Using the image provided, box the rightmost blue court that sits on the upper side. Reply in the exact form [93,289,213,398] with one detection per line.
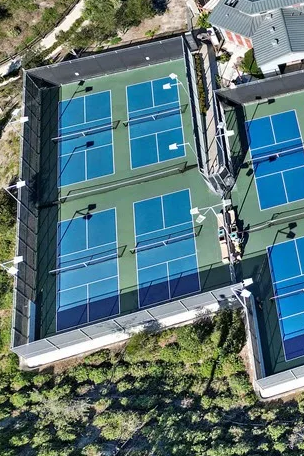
[245,109,304,210]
